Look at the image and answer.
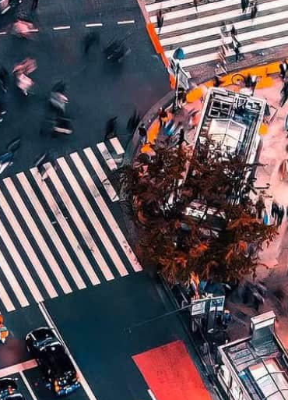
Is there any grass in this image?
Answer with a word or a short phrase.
No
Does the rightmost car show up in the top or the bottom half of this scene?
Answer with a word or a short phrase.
bottom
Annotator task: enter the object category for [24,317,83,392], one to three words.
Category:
car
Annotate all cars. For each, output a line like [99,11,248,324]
[24,317,83,392]
[0,366,30,400]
